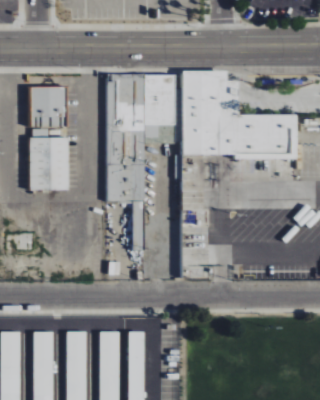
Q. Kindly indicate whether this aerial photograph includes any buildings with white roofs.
Yes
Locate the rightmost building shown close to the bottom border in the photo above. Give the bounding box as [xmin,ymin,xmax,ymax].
[127,331,145,400]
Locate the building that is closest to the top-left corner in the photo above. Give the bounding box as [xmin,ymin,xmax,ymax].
[28,86,66,126]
